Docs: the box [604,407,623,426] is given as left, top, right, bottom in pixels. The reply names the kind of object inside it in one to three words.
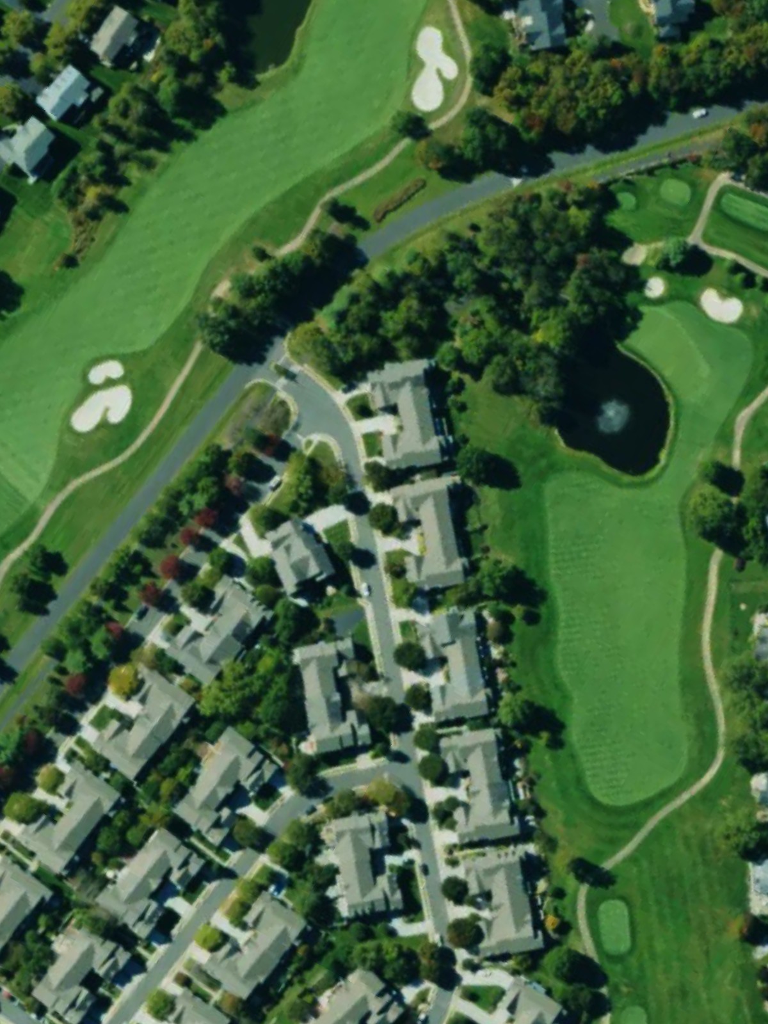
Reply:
fountain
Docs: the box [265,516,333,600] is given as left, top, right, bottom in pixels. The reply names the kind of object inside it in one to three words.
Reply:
house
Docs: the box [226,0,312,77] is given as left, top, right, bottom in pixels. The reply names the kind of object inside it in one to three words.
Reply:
pond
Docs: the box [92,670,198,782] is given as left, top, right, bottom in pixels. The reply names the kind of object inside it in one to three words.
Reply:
house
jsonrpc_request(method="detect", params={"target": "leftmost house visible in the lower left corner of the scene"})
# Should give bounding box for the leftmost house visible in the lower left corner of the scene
[0,857,52,955]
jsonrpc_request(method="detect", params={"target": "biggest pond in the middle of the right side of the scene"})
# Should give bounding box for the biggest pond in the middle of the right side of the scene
[545,345,670,475]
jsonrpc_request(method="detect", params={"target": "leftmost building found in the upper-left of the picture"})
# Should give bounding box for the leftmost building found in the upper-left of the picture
[0,112,57,170]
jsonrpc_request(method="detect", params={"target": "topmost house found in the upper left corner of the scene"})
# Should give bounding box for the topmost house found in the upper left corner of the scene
[91,5,160,63]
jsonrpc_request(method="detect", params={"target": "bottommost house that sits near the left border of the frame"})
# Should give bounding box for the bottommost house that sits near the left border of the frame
[26,920,135,1024]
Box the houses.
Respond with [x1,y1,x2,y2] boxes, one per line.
[206,892,307,1004]
[18,764,126,876]
[26,920,135,1024]
[749,611,768,666]
[91,5,160,63]
[265,516,333,600]
[509,0,567,44]
[173,733,281,850]
[99,829,207,944]
[750,860,768,916]
[92,670,198,782]
[325,811,405,921]
[167,577,275,689]
[292,636,374,754]
[314,973,407,1024]
[391,478,470,591]
[168,992,228,1024]
[0,857,52,955]
[369,358,450,471]
[0,112,57,170]
[463,851,543,960]
[440,730,521,842]
[499,978,563,1024]
[416,610,495,723]
[37,62,110,119]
